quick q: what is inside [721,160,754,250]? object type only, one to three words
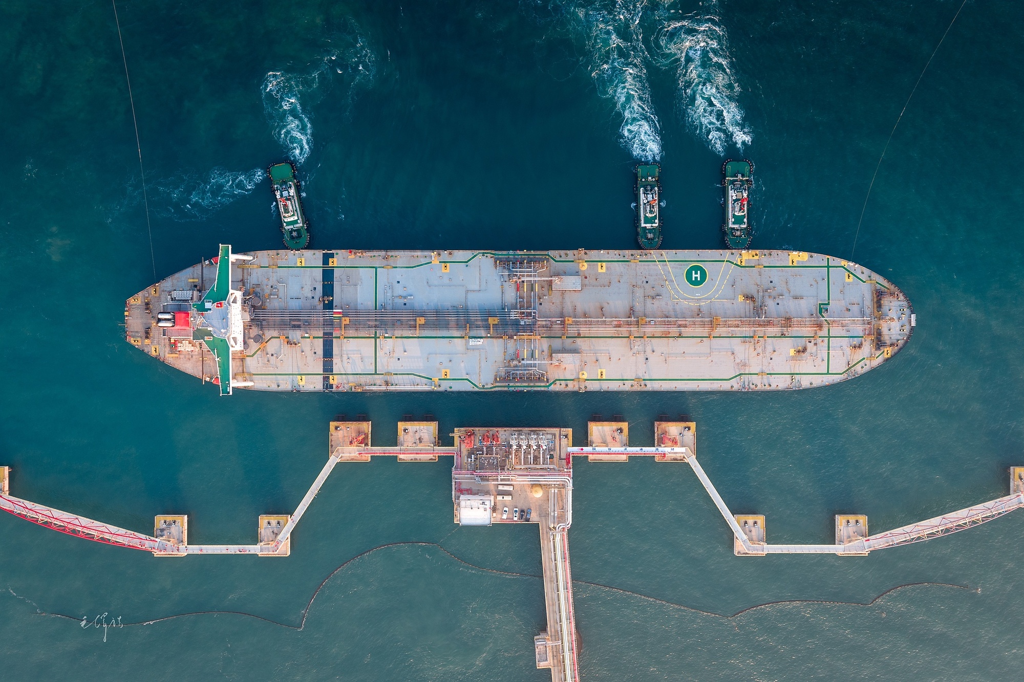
boat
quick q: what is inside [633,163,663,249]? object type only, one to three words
boat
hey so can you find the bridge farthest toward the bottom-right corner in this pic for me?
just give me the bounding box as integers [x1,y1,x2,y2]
[865,492,1024,552]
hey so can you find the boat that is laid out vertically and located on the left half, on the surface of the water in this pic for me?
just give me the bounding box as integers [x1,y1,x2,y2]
[267,161,308,250]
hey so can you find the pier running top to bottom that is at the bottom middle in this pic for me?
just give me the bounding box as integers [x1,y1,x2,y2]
[540,523,582,682]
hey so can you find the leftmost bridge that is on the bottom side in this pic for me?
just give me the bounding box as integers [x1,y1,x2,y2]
[0,492,159,552]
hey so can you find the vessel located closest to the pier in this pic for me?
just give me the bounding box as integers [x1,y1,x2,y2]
[118,244,917,396]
